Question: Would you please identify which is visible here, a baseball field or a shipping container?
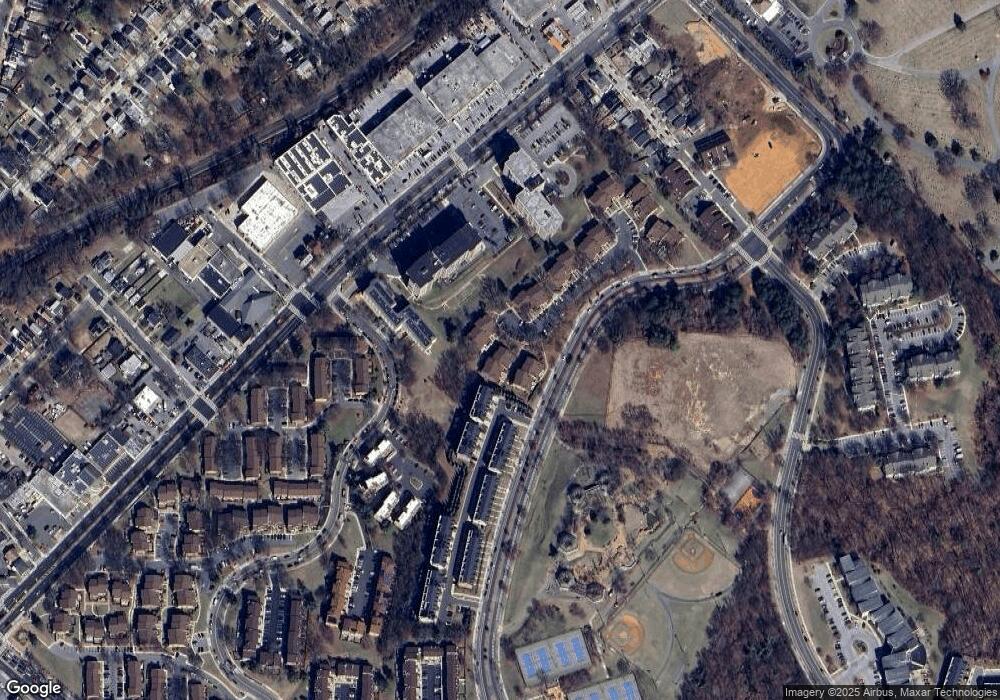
baseball field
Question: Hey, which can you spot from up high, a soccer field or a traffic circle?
traffic circle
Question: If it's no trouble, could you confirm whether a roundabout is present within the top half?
Yes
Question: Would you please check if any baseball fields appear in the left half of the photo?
No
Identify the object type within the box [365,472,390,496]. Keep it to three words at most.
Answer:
house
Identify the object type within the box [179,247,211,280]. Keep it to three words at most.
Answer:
building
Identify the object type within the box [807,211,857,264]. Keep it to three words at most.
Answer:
building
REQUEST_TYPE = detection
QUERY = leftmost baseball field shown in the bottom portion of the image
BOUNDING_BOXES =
[598,587,674,687]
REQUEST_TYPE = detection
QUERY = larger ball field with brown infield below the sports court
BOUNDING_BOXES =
[642,523,740,599]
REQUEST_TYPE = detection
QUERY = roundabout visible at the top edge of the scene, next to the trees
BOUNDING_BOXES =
[808,20,860,69]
